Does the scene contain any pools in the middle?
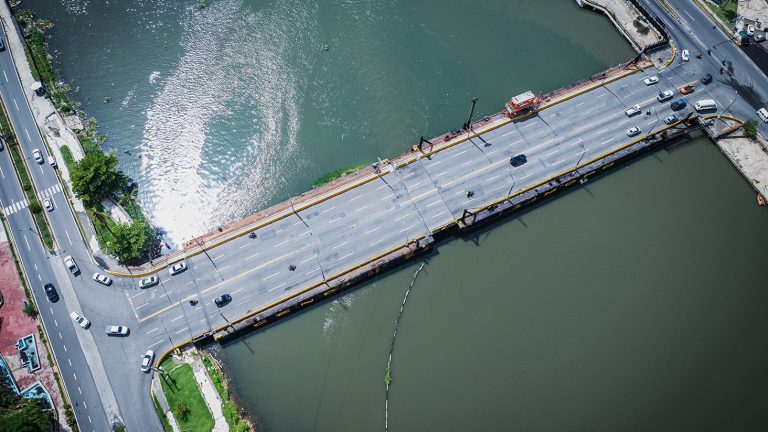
No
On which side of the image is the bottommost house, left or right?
right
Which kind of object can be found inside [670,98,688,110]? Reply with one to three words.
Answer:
vehicle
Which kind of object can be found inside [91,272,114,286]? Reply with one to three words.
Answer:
car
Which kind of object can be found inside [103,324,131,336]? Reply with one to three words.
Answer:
vehicle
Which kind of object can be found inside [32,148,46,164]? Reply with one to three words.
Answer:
car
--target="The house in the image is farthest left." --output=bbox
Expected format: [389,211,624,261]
[502,92,537,114]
